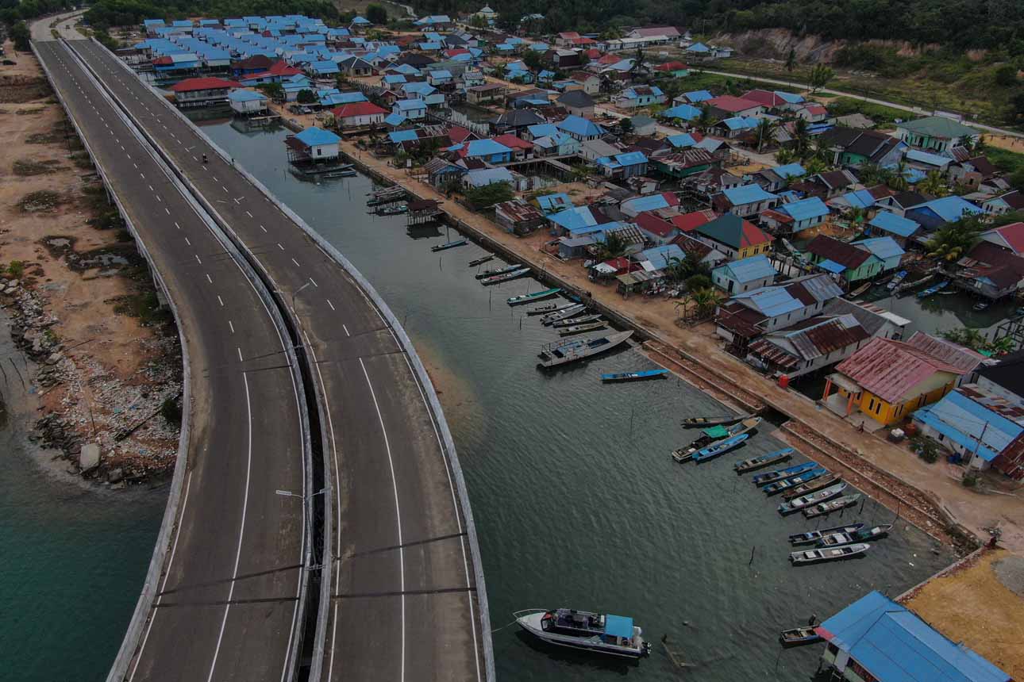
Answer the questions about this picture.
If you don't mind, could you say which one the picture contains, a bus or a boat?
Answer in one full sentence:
Of the two, only a boat appears.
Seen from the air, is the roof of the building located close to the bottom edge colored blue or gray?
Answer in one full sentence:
The roof of the building located close to the bottom edge is blue.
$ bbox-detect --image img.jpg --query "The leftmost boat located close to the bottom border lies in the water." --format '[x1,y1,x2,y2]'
[496,607,651,670]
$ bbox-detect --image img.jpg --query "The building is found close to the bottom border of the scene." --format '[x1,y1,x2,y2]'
[798,580,1012,682]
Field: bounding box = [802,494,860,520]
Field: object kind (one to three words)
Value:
boat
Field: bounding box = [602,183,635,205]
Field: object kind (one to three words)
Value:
shed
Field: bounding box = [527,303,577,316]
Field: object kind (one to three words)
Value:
boat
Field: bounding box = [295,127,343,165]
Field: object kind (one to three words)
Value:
house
